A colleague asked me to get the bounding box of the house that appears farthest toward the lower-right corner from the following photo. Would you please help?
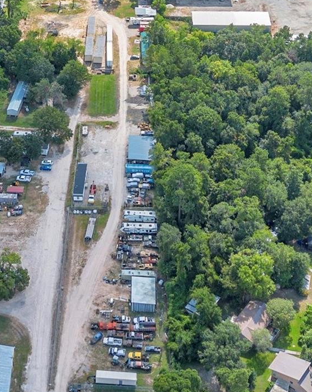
[268,349,312,392]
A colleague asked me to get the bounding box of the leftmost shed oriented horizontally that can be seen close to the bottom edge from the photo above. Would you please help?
[95,370,137,384]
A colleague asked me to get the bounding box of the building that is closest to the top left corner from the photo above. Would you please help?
[7,79,27,118]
